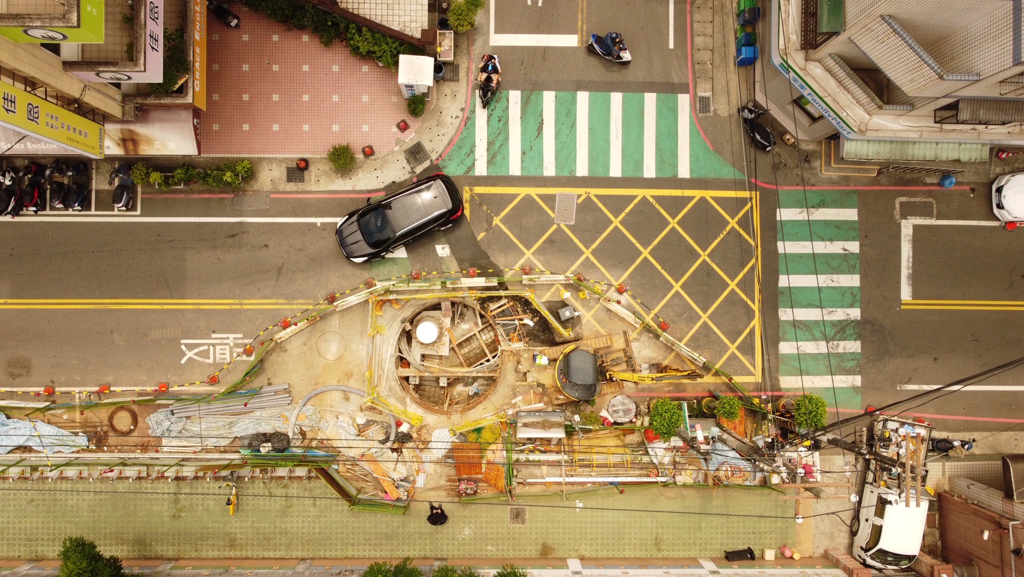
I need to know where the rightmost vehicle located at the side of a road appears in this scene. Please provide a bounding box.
[992,172,1024,224]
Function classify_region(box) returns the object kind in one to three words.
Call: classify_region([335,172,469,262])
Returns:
car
